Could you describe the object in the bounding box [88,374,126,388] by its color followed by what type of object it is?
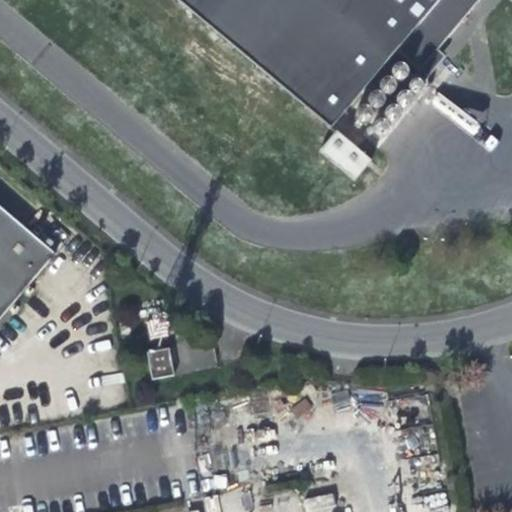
white vehicle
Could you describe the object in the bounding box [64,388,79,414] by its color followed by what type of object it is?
white vehicle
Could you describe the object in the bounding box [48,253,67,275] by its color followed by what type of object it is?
white car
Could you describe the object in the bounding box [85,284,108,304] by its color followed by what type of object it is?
white car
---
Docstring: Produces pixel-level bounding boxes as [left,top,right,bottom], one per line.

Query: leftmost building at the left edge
[0,206,54,318]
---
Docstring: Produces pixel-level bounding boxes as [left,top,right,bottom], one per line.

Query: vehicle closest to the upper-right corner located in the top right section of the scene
[441,56,462,77]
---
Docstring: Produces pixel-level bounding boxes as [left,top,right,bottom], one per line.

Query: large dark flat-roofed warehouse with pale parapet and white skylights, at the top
[176,0,444,129]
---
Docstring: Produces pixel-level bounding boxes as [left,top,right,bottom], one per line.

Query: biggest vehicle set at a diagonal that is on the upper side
[431,96,496,152]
